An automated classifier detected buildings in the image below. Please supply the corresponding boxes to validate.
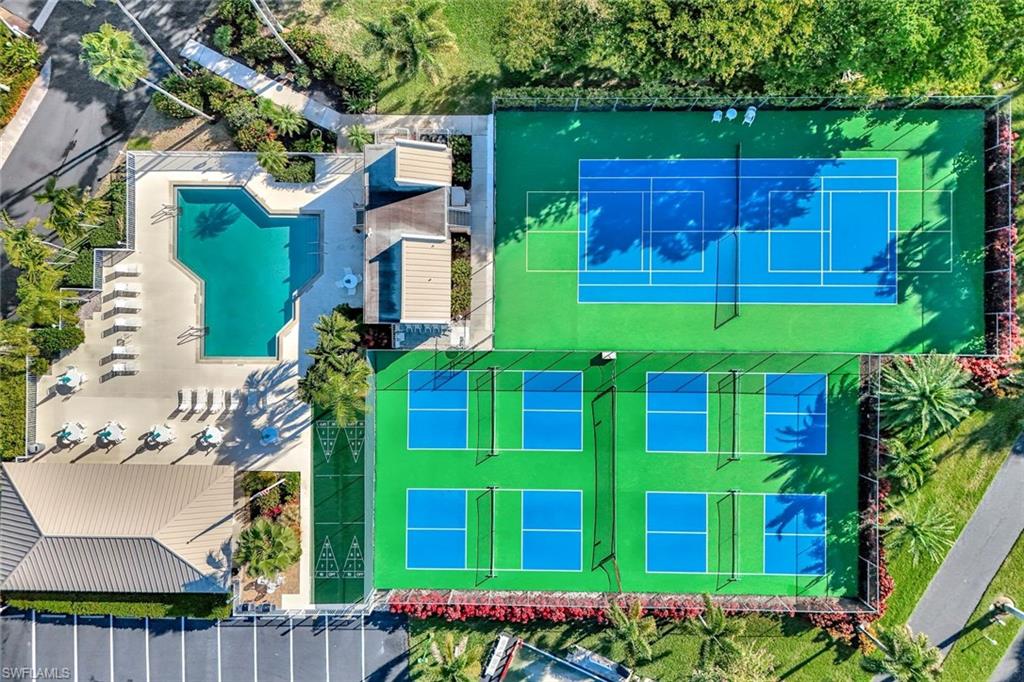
[0,464,239,593]
[365,140,452,325]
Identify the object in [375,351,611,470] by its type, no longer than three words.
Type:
sports court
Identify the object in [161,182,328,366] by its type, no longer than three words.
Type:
swimming pool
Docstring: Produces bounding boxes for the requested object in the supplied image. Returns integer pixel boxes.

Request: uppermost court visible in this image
[494,110,985,355]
